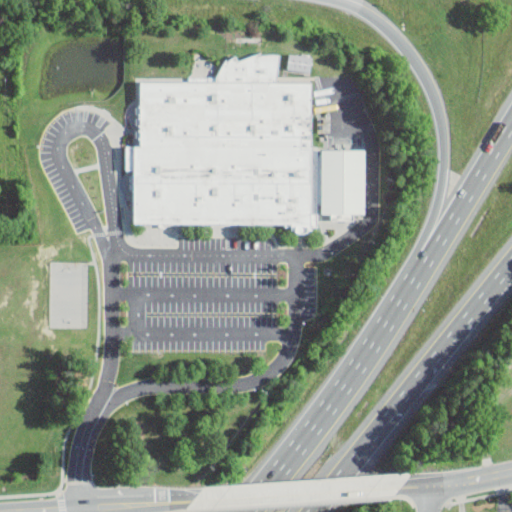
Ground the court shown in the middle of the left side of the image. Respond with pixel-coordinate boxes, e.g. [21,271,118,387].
[50,262,88,329]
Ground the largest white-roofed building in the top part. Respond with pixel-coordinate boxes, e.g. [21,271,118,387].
[126,55,320,236]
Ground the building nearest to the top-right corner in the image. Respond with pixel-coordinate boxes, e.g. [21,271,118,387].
[288,54,312,76]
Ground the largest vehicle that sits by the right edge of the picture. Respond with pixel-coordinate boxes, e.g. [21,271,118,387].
[486,124,504,154]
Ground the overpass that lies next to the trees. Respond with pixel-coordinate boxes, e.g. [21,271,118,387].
[188,472,410,512]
